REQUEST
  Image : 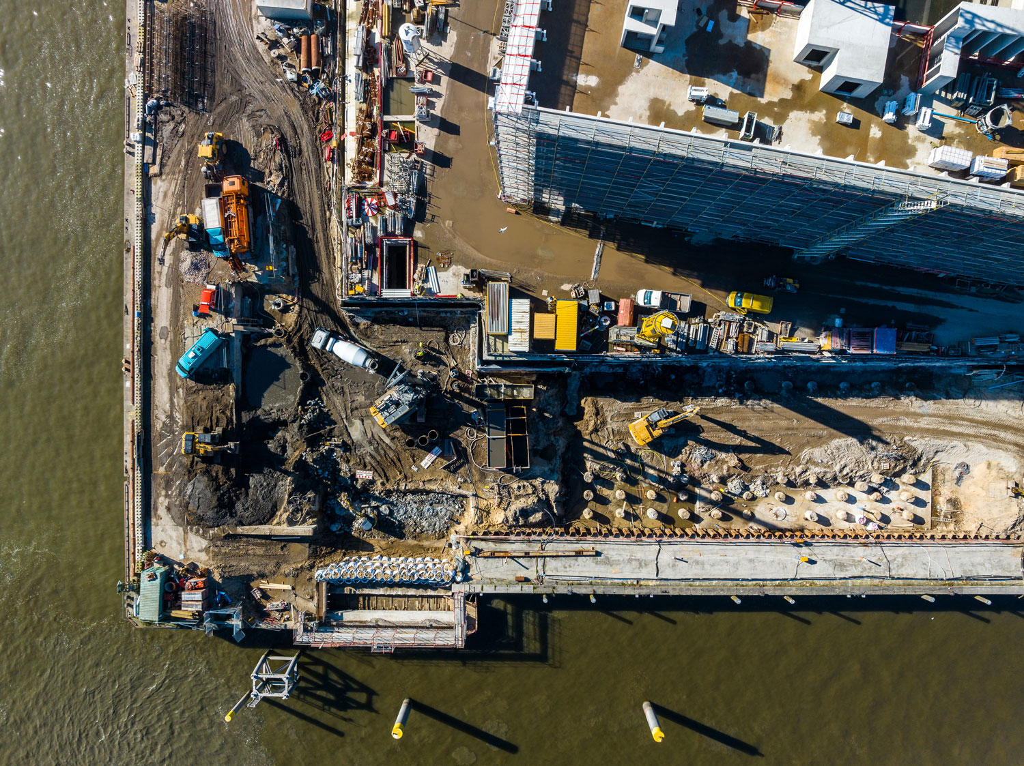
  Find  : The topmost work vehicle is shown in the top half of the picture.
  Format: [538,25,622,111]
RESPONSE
[193,122,227,192]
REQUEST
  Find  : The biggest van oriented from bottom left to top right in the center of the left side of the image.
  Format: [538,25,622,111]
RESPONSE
[175,329,233,382]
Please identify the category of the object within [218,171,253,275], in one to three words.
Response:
truck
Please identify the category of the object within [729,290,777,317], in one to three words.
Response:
vehicle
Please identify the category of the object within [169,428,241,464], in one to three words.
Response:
work vehicle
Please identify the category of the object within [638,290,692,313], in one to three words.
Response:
truck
